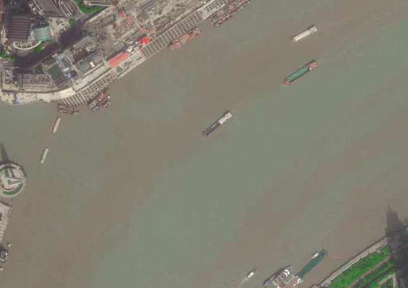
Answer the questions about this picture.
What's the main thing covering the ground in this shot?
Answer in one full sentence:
The scene is dominated by water.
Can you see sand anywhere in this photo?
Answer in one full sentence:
No, there's no sand in this view.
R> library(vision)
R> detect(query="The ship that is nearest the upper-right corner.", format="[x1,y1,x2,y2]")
[292,26,319,39]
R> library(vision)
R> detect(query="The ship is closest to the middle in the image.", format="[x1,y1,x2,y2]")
[202,111,233,136]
